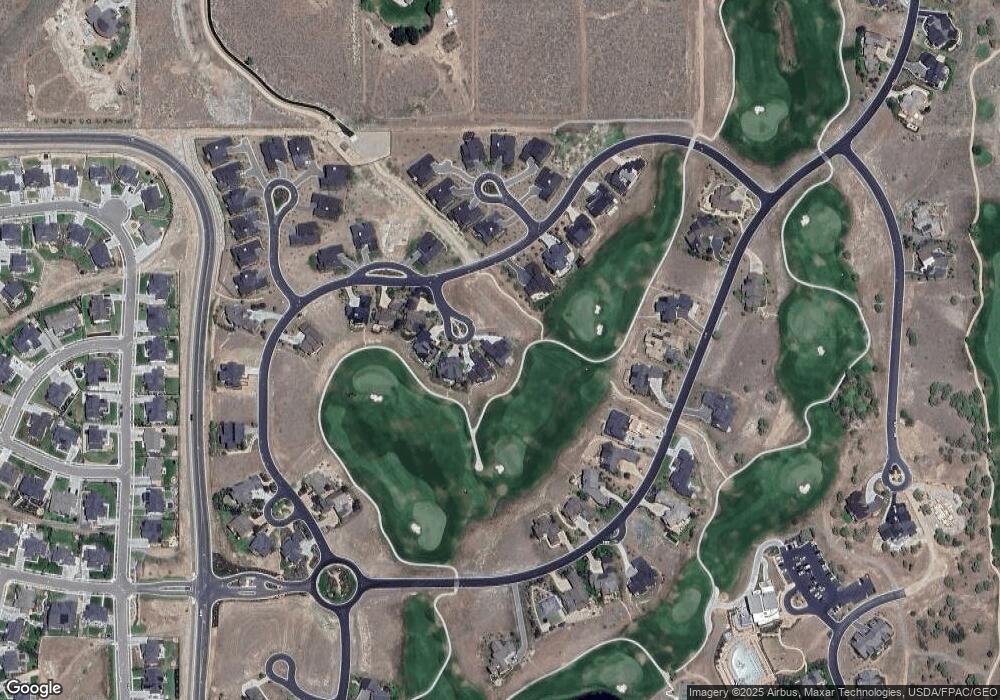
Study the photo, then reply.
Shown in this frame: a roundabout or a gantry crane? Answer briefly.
roundabout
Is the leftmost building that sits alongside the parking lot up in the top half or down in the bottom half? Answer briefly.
bottom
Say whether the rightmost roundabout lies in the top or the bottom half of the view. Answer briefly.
bottom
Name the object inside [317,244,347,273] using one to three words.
house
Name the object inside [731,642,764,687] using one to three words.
swimming pool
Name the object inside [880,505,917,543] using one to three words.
house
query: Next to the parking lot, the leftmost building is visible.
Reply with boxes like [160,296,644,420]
[751,581,780,625]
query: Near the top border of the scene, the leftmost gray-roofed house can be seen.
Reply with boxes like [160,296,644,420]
[85,5,122,37]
